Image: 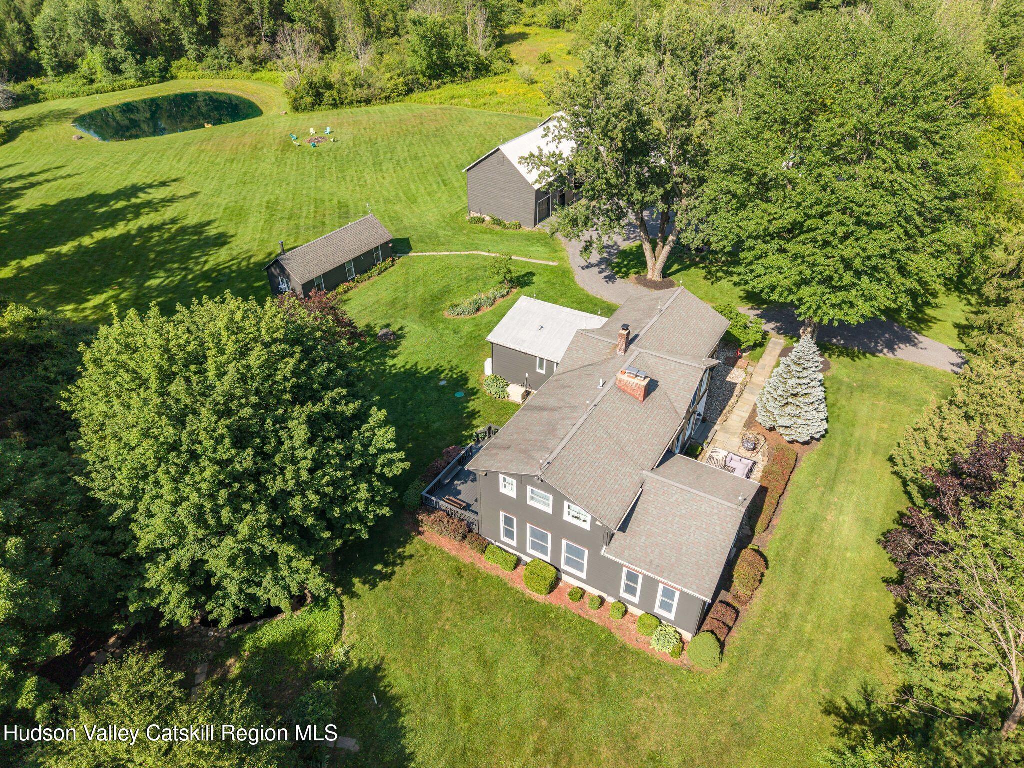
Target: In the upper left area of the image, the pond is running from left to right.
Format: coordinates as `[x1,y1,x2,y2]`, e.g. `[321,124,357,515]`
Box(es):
[71,91,264,143]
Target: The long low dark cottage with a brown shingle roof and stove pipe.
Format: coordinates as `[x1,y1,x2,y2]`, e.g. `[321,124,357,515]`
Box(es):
[264,203,392,296]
